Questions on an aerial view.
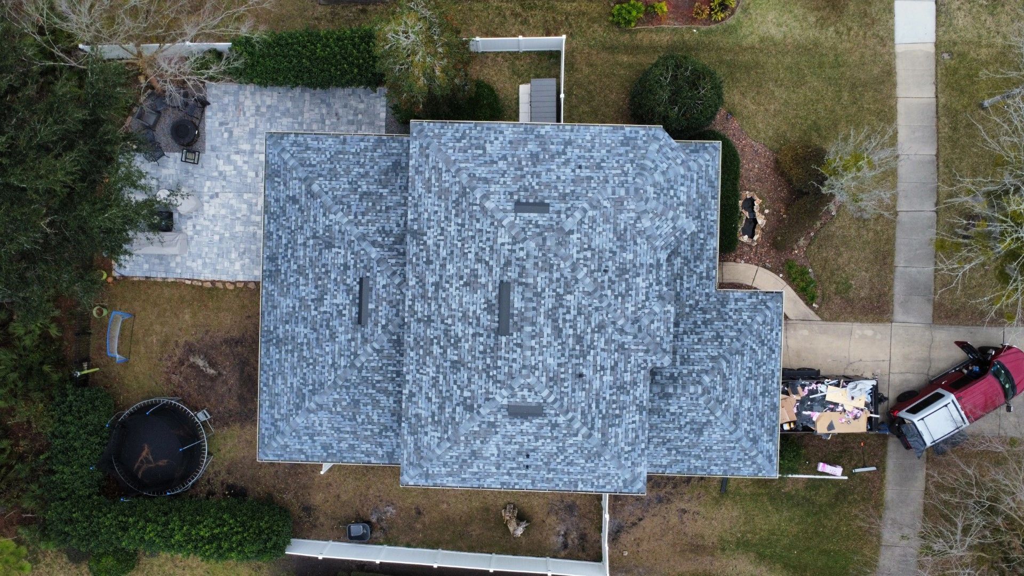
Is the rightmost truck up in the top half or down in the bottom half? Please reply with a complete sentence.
It is in the bottom half that the rightmost truck appears.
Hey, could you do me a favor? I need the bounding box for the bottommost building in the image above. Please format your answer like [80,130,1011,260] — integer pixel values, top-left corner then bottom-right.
[255,117,787,498]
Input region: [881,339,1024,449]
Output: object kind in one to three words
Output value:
truck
